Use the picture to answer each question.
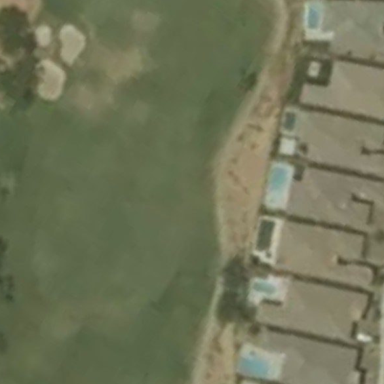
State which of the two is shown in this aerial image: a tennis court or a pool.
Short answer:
pool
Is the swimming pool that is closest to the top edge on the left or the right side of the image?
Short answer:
right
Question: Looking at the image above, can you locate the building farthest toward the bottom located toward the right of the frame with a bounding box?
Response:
[261,331,364,384]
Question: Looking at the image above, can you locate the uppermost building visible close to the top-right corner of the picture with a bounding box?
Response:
[325,2,384,57]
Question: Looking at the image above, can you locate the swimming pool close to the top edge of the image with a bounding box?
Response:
[306,1,327,39]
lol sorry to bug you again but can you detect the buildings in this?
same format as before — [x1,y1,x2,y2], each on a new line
[274,219,371,286]
[261,331,364,384]
[325,2,384,57]
[257,278,371,343]
[288,167,384,227]
[294,111,384,175]
[301,59,384,117]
